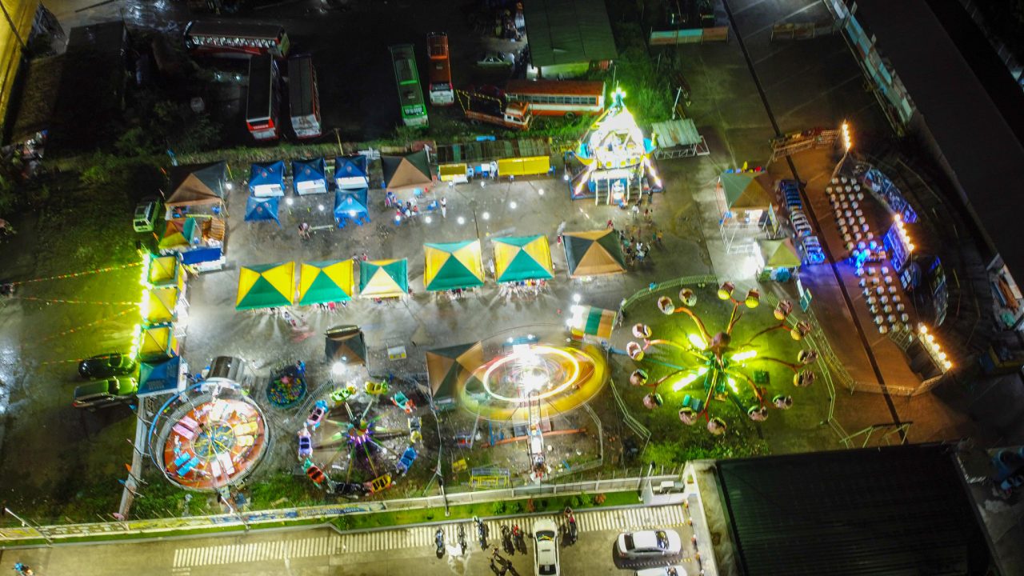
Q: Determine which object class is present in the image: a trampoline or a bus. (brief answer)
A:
bus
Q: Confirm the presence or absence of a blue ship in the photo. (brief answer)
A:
No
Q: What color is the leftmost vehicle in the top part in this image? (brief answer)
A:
green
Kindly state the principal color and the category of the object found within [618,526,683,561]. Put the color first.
white car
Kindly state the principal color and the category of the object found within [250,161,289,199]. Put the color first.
blue tent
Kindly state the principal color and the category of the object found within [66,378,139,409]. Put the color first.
green truck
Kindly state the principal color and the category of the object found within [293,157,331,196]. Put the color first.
blue tent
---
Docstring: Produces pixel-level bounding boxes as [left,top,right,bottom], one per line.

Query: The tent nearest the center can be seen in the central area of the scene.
[492,235,554,296]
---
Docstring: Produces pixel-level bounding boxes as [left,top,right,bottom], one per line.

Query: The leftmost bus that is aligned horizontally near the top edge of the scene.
[185,22,291,60]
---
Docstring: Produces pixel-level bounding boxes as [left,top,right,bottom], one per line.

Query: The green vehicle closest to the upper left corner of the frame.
[129,200,160,241]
